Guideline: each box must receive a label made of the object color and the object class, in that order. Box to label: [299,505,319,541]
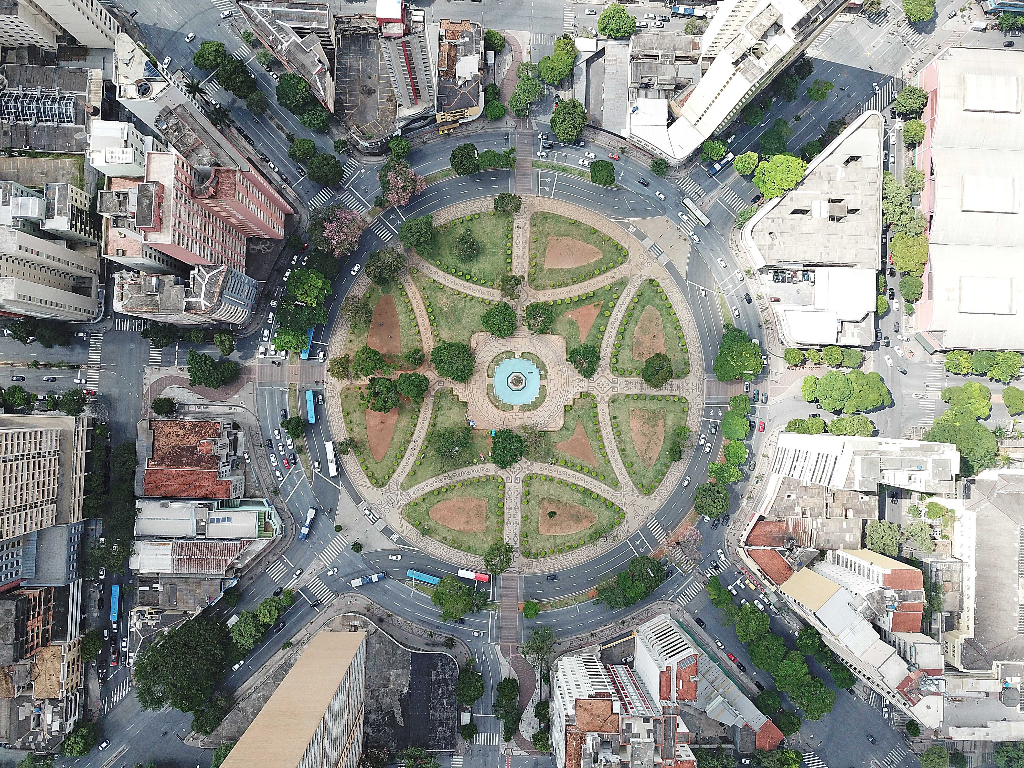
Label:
white bus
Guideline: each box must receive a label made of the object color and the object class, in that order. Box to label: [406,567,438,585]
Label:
blue vehicle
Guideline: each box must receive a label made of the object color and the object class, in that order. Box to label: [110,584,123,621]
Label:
blue vehicle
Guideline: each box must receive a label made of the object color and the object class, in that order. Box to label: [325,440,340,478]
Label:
white vehicle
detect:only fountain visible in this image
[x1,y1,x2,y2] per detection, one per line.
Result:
[493,358,540,404]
